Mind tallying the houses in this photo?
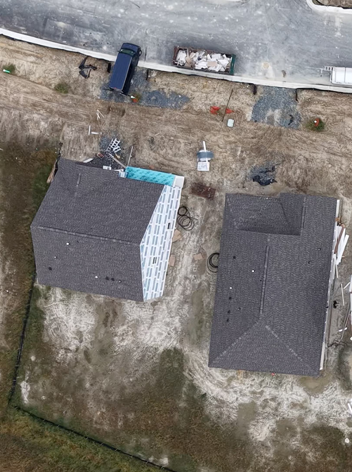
2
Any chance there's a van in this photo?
Yes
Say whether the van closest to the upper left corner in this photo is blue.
Yes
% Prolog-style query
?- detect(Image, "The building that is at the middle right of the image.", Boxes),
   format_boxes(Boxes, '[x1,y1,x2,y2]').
[208,192,339,376]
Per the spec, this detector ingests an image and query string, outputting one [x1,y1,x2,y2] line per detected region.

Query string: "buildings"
[208,192,339,376]
[31,155,184,302]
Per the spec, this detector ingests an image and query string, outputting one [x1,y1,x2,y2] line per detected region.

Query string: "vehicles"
[328,65,352,85]
[97,41,144,97]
